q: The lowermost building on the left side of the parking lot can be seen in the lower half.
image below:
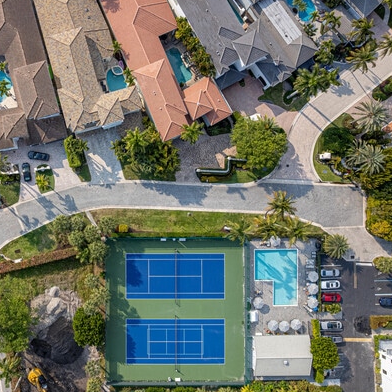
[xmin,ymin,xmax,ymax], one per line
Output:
[247,332,313,377]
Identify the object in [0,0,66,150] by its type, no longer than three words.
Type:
house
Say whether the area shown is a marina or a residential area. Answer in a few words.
residential area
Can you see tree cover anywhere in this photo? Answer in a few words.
Yes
